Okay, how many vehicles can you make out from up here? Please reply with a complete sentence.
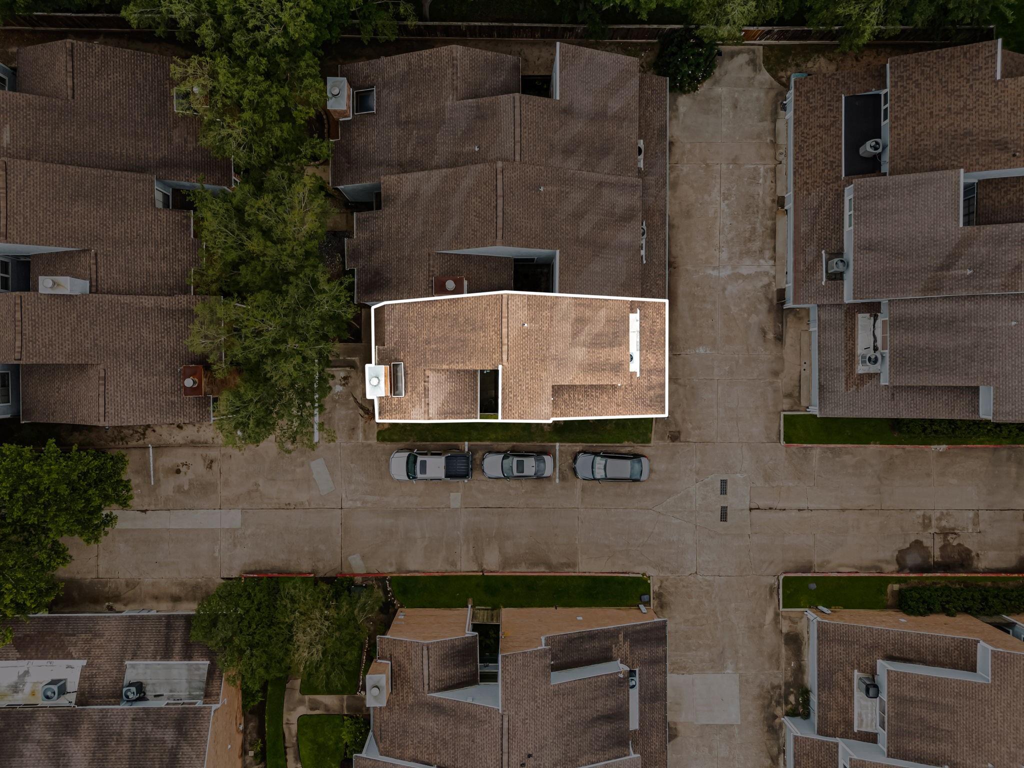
The count of vehicles comes to 3.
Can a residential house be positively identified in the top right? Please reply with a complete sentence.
Yes, the scene does show a residential house in the top right.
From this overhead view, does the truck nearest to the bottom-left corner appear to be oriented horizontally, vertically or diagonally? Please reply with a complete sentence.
What the image shows is the truck nearest to the bottom-left corner lying horizontally.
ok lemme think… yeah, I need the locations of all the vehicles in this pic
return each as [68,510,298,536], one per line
[575,451,651,486]
[388,450,472,486]
[482,451,552,484]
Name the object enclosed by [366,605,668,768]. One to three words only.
house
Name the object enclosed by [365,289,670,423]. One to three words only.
house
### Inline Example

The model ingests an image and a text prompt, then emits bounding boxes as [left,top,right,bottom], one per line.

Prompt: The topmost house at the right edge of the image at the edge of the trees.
[785,39,1024,193]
